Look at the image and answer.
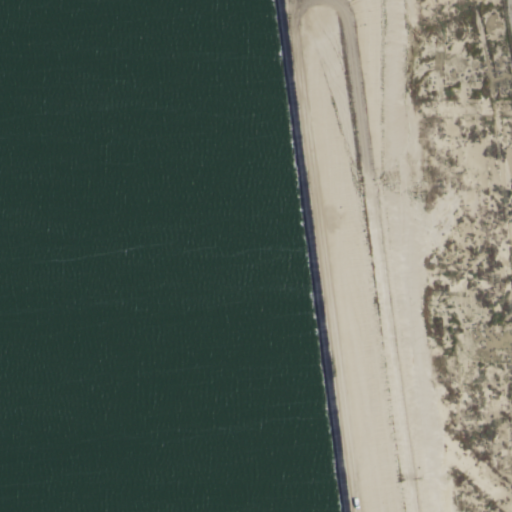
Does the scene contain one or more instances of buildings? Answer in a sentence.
No, the picture doesn't show any building.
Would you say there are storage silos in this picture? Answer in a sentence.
No, the frame has no storage silo in it.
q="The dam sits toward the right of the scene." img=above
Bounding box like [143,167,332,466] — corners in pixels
[276,0,404,512]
